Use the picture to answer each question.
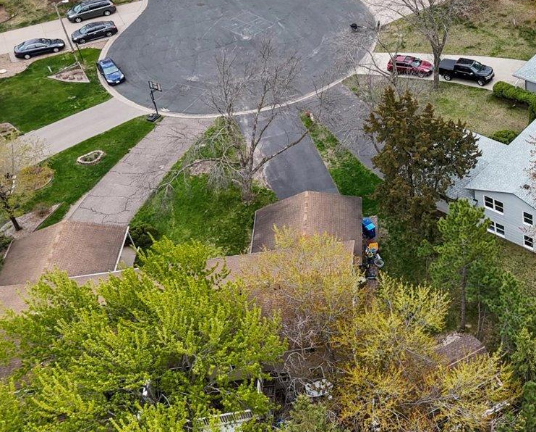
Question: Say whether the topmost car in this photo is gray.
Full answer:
Yes, the topmost car is gray.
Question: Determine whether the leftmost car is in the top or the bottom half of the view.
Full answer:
The top half of the photo is where the leftmost car is.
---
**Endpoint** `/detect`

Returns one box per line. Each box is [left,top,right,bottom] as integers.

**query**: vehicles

[96,55,123,81]
[64,0,114,20]
[68,18,116,41]
[440,55,498,85]
[12,36,64,58]
[387,51,432,76]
